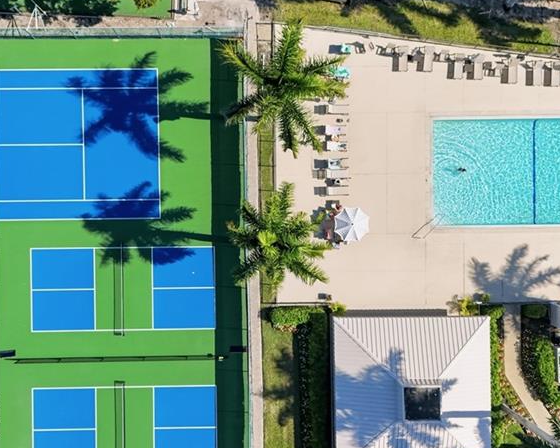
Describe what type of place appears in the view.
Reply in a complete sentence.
This looks like a sports ground.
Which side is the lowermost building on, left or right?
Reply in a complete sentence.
The lowermost building sits on the right side.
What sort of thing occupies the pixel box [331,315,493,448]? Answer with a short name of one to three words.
building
